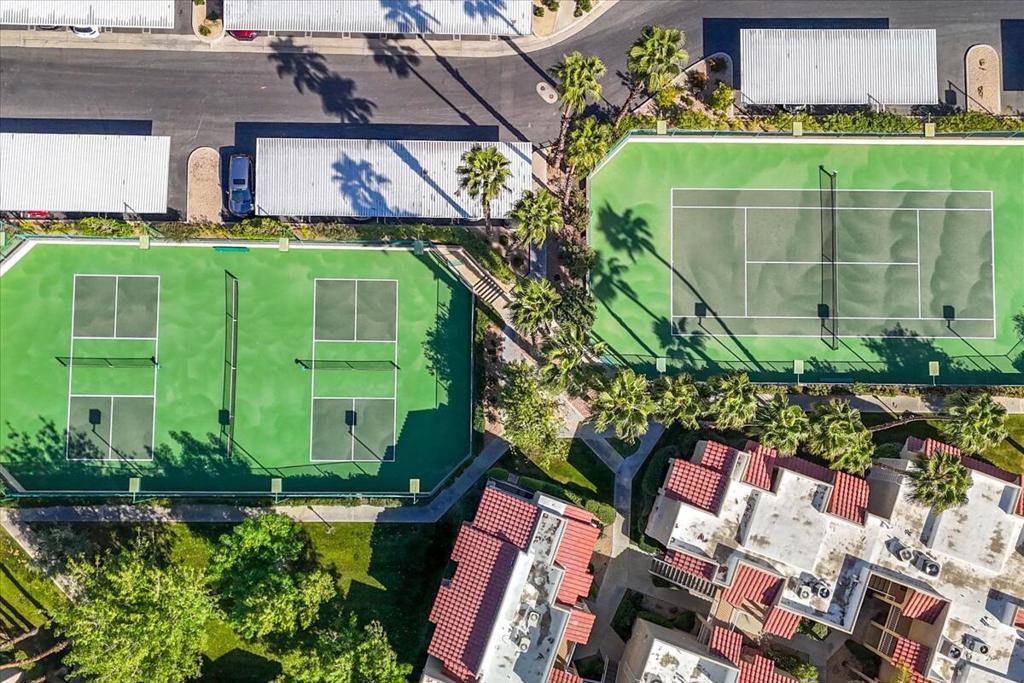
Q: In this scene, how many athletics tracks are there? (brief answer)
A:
0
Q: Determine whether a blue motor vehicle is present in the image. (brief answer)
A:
Yes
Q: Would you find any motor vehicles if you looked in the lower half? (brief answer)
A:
No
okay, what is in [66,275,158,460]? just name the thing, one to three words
sports court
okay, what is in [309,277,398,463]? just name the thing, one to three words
sports court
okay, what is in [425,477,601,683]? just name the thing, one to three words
building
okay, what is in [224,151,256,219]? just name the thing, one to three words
car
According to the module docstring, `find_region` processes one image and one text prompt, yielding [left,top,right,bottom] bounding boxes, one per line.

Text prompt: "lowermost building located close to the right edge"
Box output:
[647,435,1024,683]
